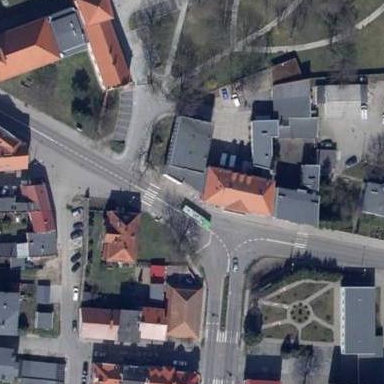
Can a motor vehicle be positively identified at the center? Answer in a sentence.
Yes, looking at the center, one can make out a motor vehicle.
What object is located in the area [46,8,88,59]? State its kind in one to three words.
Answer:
building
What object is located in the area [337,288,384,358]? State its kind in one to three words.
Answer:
building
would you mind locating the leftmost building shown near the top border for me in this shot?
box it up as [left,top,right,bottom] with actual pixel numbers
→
[0,18,62,82]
